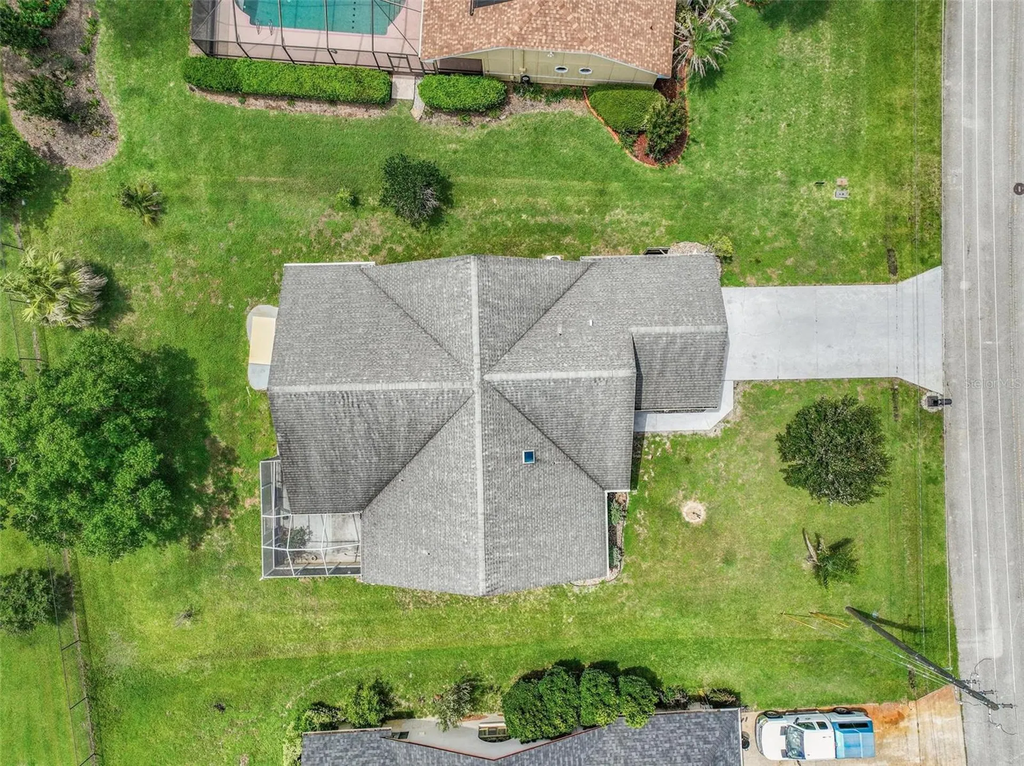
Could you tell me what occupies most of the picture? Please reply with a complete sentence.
Most of the picture is covered by grass.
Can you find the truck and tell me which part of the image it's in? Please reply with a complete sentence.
The truck is in the bottom right part of the image.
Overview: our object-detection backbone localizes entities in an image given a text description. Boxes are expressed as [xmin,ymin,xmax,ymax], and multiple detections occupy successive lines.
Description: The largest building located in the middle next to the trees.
[269,252,729,595]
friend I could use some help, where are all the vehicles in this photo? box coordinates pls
[753,710,875,766]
